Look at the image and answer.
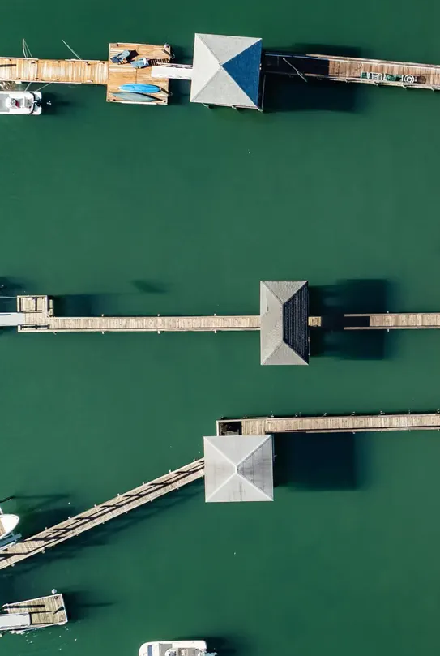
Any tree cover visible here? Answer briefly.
No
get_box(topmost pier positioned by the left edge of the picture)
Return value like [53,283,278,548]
[0,56,109,86]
